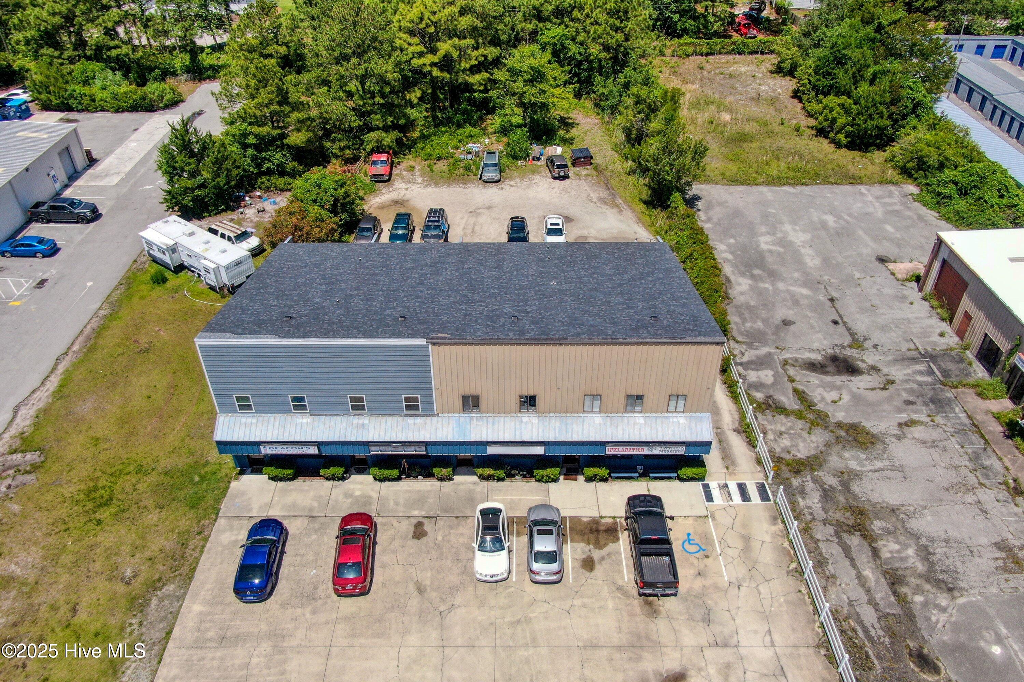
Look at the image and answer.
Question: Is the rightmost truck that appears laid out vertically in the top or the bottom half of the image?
bottom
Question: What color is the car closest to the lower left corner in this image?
blue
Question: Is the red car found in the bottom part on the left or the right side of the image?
left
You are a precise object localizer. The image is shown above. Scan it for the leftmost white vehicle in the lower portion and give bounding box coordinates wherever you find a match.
[471,503,512,582]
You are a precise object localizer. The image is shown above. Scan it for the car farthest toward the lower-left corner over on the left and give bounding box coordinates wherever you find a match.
[232,520,287,601]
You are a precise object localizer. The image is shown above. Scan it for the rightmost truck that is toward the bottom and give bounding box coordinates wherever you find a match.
[624,496,680,599]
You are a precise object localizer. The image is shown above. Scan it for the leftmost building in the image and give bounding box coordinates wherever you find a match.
[0,116,89,244]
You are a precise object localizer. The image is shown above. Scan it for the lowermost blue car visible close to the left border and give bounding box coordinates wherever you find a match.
[0,234,58,257]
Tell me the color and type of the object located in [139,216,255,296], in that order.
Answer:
white camper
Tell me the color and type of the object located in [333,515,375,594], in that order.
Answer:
red car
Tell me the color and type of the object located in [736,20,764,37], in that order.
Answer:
red vehicle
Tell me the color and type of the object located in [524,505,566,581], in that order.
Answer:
gray car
